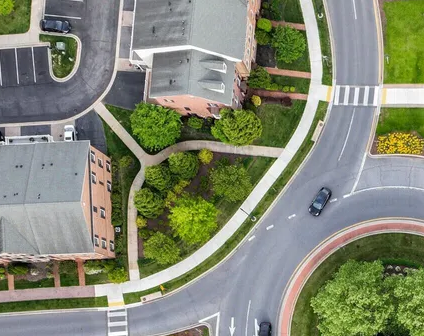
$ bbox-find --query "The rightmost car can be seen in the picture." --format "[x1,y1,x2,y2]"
[309,185,332,218]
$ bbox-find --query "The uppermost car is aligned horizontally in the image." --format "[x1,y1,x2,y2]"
[41,17,74,35]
